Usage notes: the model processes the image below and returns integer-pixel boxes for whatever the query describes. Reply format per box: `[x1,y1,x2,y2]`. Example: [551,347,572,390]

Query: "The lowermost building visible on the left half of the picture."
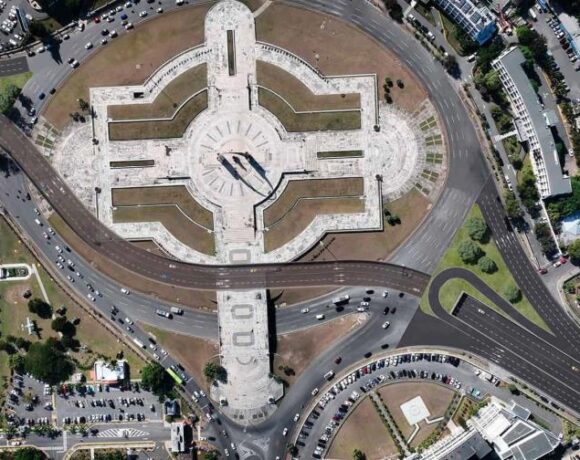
[171,417,191,451]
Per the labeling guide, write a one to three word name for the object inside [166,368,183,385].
vehicle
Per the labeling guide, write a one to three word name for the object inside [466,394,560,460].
building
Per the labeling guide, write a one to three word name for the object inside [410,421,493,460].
building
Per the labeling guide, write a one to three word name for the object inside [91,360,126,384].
house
